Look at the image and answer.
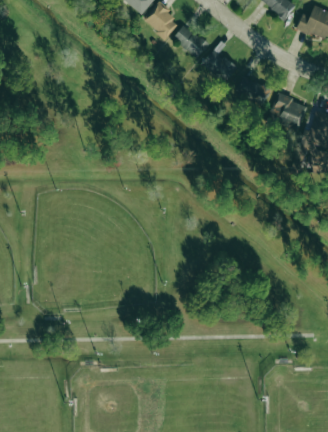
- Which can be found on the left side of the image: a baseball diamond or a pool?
baseball diamond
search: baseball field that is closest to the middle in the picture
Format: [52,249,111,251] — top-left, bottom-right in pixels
[34,189,156,314]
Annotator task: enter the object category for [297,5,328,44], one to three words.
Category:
house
